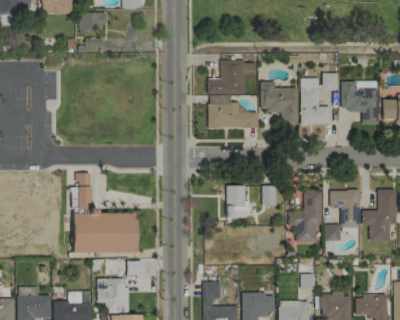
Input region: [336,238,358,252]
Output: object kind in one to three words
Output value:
swimming pool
